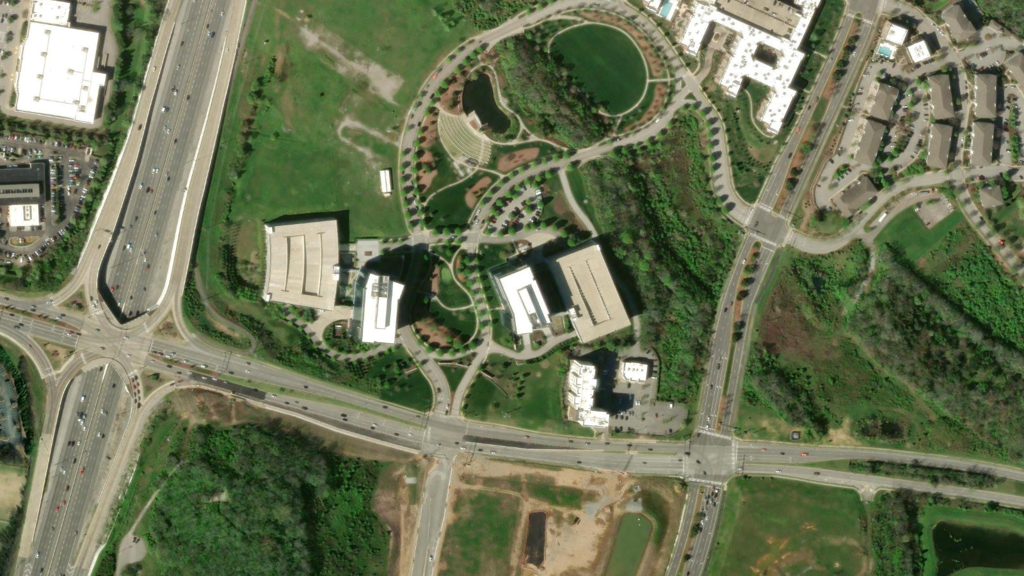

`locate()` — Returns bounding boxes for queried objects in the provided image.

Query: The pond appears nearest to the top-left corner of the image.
[462,74,510,133]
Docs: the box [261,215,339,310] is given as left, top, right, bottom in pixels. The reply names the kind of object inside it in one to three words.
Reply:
building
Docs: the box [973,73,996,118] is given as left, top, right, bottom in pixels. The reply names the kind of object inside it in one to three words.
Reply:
building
